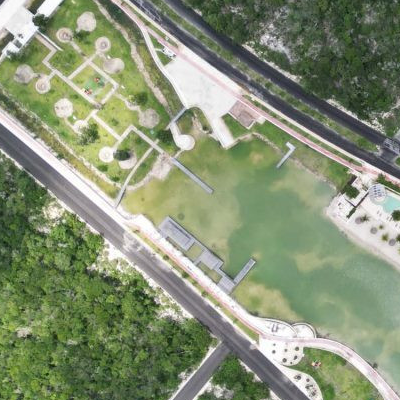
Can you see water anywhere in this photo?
Yes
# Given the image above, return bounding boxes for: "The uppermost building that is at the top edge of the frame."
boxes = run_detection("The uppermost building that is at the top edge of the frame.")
[37,0,67,18]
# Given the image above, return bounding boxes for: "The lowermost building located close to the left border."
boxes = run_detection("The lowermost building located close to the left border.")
[2,28,41,55]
